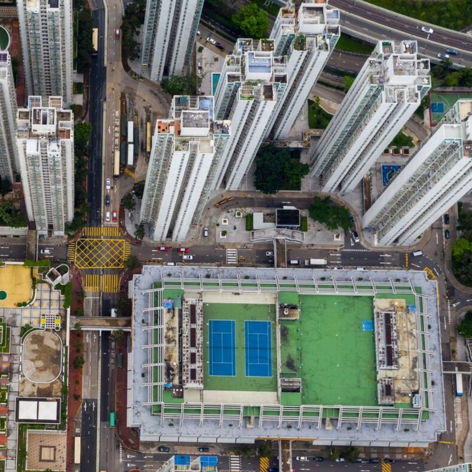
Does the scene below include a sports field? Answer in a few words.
Yes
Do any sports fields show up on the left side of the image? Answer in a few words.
No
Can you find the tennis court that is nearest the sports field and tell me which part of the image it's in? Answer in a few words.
bottom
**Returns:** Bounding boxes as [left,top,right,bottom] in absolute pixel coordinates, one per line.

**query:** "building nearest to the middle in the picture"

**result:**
[252,206,300,230]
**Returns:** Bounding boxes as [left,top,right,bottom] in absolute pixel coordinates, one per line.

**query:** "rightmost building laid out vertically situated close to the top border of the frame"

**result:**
[260,0,341,153]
